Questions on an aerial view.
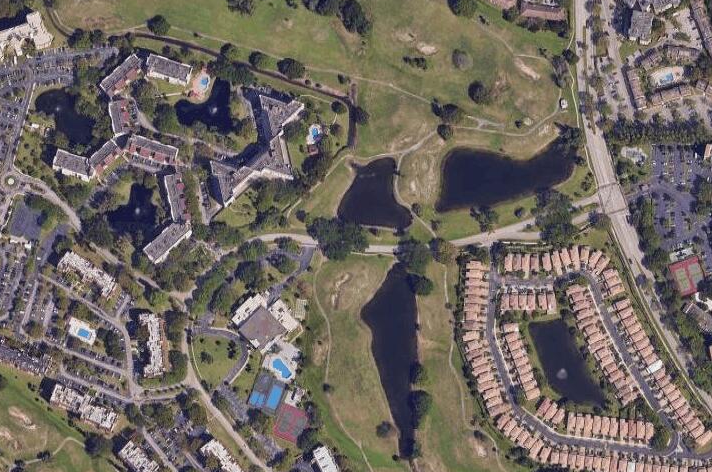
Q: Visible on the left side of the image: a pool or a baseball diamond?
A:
pool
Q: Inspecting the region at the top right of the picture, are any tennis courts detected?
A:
No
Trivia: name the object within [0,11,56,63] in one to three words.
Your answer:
building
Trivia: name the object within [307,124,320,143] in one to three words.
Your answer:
swimming pool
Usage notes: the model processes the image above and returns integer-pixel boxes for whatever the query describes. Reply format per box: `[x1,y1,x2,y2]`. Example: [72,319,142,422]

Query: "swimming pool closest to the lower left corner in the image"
[68,317,95,344]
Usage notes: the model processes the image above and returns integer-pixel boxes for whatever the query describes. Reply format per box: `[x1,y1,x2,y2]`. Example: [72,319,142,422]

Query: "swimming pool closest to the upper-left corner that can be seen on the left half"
[188,67,210,100]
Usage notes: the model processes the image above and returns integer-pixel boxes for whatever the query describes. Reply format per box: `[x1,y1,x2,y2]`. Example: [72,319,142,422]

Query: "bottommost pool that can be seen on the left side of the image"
[262,340,301,382]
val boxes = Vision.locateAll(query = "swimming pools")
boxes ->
[68,317,95,344]
[307,124,320,143]
[188,67,210,100]
[649,65,684,84]
[262,340,301,382]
